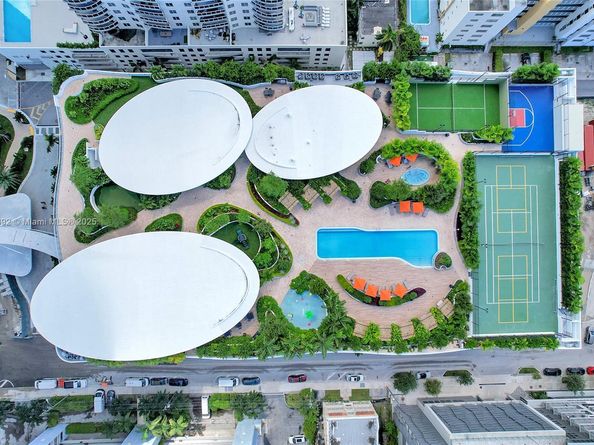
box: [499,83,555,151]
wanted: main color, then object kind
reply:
blue basketball court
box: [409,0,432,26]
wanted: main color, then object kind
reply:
blue swimming pool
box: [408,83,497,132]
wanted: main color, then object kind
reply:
green sports court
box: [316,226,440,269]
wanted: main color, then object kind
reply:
blue swimming pool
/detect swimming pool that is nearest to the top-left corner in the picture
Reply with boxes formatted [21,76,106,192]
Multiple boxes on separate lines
[3,0,32,43]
